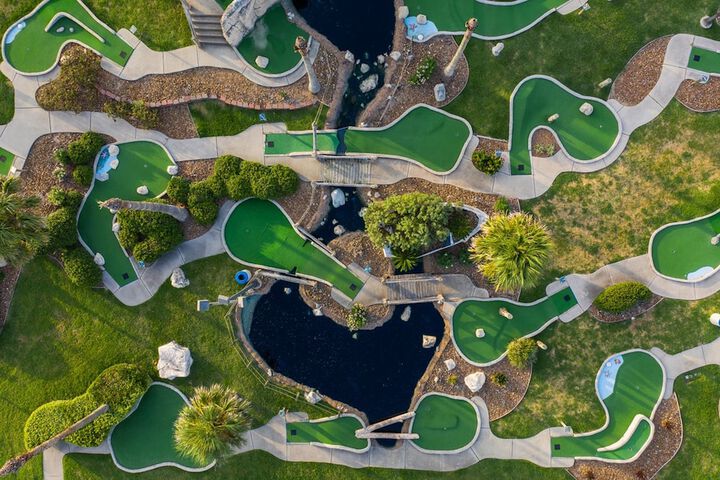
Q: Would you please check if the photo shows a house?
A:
No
